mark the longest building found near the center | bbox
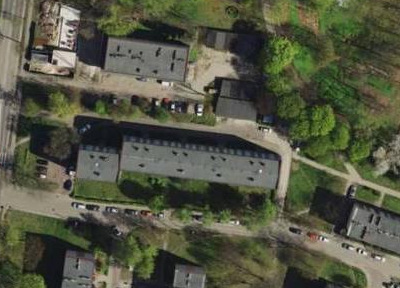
[120,136,279,190]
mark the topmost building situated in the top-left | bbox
[59,5,81,51]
